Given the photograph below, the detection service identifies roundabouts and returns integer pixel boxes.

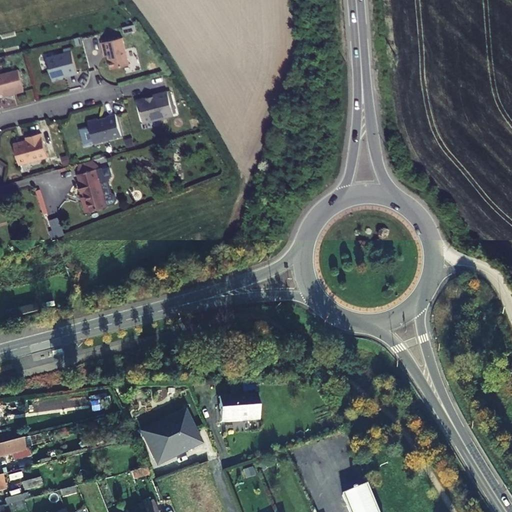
[292,182,445,335]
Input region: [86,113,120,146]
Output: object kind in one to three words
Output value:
house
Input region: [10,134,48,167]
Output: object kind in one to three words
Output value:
house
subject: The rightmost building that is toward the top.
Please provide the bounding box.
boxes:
[135,91,172,124]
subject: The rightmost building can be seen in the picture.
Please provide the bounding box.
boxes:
[344,482,382,512]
